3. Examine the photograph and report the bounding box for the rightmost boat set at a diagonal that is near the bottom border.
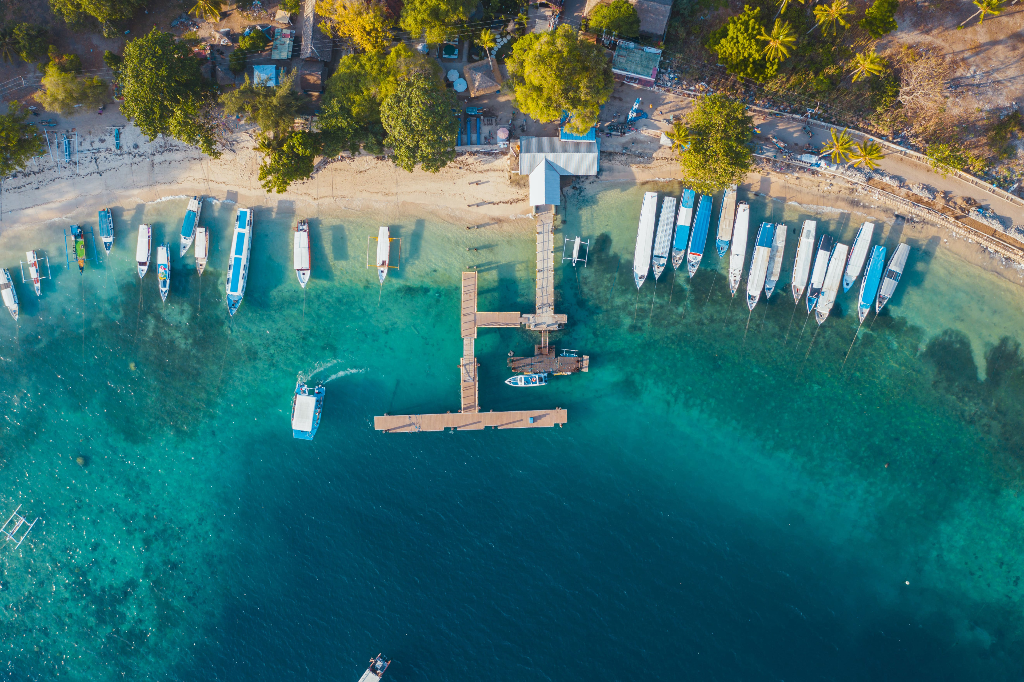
[357,646,396,682]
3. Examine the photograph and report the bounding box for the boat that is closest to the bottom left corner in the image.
[0,505,37,549]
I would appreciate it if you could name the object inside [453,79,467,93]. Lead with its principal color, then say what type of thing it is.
blue umbrella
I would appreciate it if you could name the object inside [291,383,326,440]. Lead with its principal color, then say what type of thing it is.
white ship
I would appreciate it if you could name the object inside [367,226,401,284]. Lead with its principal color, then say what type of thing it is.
white boat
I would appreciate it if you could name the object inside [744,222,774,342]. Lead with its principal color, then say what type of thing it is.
white boat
